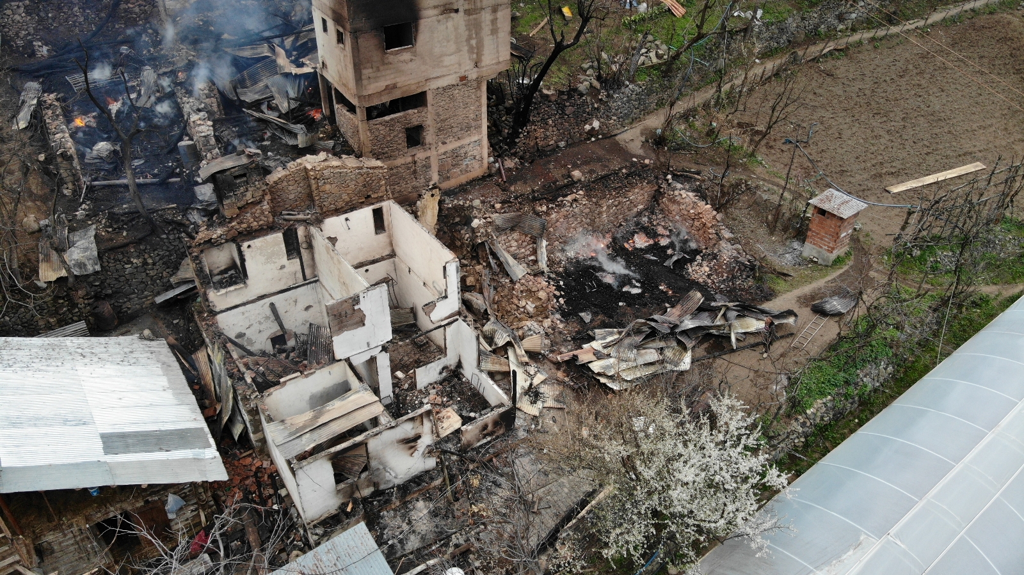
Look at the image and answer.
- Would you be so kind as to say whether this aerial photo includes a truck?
No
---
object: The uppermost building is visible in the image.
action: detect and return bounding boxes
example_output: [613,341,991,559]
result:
[310,0,511,190]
